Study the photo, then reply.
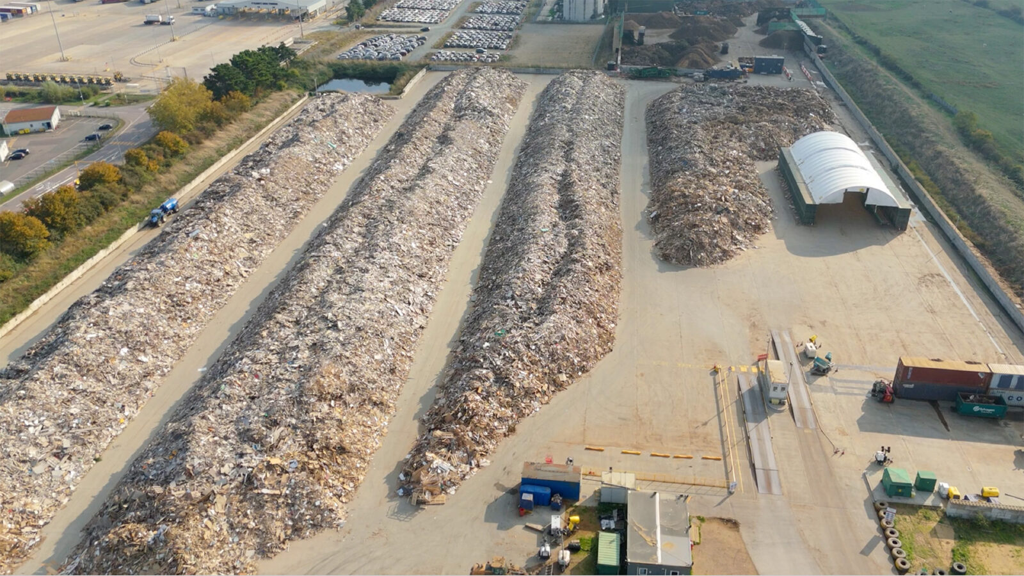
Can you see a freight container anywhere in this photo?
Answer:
Yes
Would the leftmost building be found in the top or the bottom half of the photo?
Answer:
top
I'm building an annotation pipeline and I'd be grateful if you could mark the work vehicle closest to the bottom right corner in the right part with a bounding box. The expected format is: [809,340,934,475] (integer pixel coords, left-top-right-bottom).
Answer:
[872,375,898,404]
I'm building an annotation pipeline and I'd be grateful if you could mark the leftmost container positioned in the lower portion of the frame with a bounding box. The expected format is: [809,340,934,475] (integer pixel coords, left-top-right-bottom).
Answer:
[521,462,581,499]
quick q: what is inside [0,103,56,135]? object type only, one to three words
building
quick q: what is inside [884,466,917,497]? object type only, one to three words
shed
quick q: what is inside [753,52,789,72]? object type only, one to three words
building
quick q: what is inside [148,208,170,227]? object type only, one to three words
work vehicle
